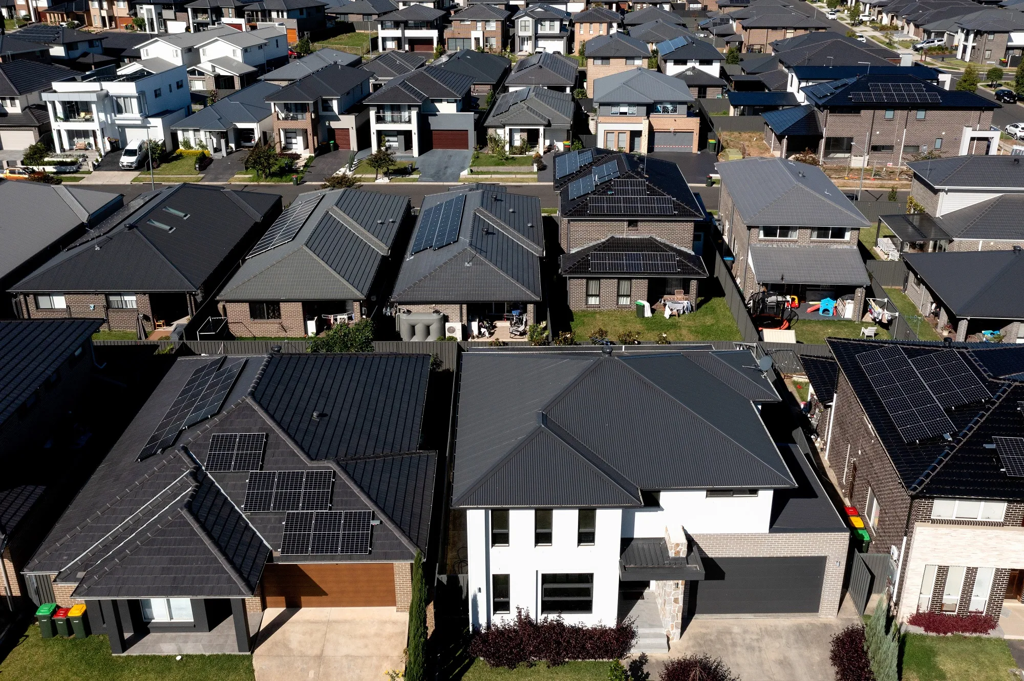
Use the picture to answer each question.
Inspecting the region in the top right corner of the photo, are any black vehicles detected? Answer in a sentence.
Yes, looking in the top right corner of the photo, one can make out a black vehicle.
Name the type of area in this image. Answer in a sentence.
The picture captures a residential area.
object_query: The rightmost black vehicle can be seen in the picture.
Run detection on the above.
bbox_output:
[995,88,1020,104]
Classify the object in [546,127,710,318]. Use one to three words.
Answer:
house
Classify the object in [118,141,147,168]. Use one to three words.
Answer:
vehicle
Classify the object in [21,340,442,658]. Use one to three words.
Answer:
house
